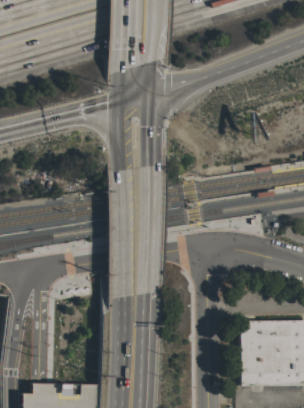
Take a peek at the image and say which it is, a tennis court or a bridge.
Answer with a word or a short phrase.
bridge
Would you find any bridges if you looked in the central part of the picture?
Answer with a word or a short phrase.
Yes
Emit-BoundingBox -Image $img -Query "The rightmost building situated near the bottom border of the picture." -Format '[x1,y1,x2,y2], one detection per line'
[242,320,304,392]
